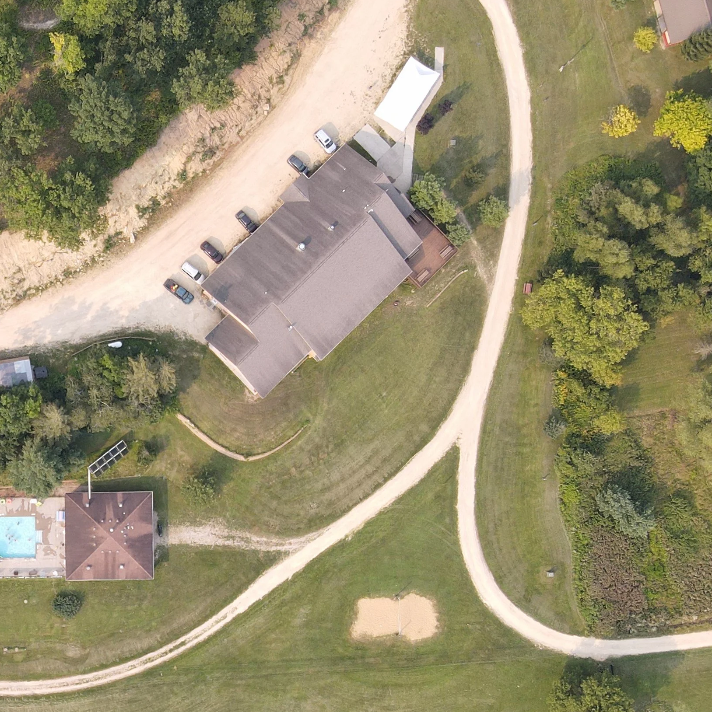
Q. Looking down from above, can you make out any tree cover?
Yes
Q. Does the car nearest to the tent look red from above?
No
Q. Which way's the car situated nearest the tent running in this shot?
at an angle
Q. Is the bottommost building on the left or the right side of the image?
left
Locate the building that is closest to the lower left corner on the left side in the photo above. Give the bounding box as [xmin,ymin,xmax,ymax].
[65,490,155,582]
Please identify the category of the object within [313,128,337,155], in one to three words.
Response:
car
